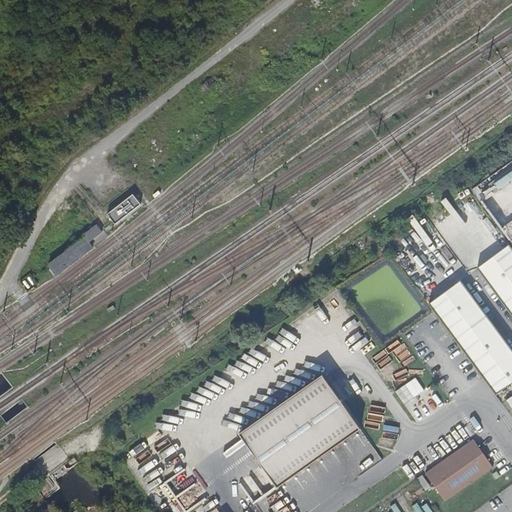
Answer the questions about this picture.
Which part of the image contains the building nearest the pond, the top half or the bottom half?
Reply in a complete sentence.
You can find the building nearest the pond in the bottom half.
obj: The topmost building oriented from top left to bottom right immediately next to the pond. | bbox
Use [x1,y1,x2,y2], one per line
[430,282,512,394]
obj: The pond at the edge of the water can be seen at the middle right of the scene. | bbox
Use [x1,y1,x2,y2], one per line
[349,258,428,344]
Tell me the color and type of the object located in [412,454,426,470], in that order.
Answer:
white vehicle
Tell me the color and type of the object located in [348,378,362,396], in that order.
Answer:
white vehicle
